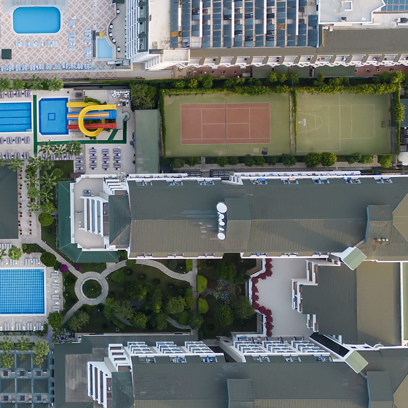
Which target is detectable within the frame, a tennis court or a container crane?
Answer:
tennis court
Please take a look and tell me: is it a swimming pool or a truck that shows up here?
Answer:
swimming pool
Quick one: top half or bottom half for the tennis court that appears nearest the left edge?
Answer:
top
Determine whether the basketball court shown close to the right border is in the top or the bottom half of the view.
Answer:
top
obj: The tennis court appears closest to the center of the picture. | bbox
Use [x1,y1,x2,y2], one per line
[164,92,290,156]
